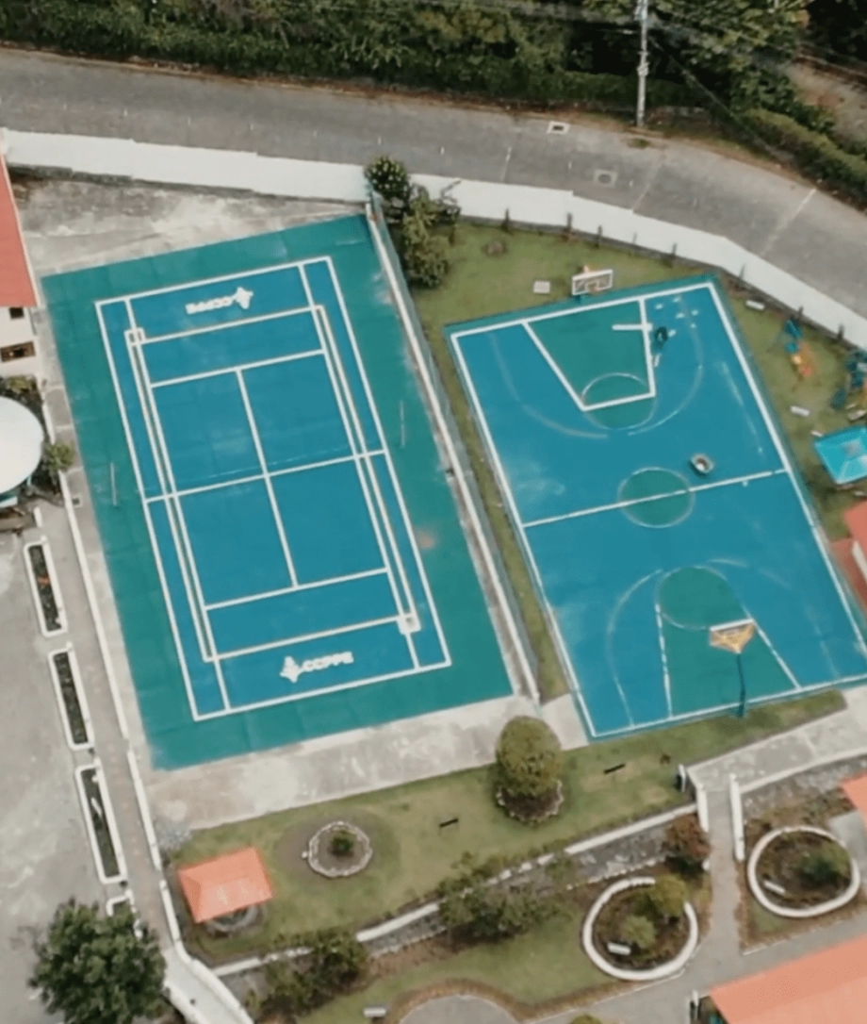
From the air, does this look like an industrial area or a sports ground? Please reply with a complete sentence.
This looks like a sports ground.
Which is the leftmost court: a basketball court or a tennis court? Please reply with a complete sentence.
What you see as the leftmost court is a tennis court.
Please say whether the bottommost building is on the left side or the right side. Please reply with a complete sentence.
You can find the bottommost building on the right side of the picture.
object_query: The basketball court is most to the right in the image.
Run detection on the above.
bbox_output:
[444,276,867,744]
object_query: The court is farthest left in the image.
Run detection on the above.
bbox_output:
[43,213,512,770]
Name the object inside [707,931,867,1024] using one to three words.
building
